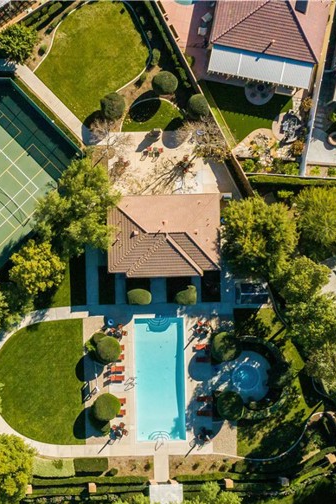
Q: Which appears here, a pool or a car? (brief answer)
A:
pool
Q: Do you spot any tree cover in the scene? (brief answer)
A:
Yes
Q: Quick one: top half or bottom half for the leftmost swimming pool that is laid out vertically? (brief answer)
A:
bottom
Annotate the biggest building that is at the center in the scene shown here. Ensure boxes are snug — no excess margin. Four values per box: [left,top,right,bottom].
[107,192,221,277]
